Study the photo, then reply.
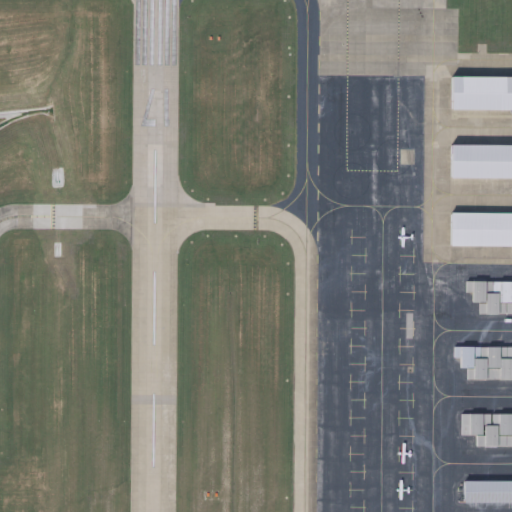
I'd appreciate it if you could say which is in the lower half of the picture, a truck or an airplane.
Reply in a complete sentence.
Looking in the lower half of the picture, you will find an airplane.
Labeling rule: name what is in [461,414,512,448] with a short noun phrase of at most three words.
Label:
hangar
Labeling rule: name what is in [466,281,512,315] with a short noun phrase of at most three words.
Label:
hangar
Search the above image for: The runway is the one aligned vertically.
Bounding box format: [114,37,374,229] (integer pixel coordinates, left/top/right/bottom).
[131,0,180,512]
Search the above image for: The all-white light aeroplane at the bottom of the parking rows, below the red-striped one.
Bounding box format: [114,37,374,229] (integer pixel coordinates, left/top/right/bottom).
[396,480,412,500]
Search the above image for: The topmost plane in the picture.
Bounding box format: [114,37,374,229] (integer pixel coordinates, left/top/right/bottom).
[398,227,414,248]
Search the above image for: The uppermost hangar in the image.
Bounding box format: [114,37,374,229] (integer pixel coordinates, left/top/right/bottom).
[451,76,512,110]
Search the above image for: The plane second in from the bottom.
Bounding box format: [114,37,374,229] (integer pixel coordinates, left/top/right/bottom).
[398,443,414,464]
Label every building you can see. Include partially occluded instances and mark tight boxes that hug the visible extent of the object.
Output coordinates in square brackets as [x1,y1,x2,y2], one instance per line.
[461,414,512,448]
[466,281,512,315]
[451,76,512,110]
[454,346,512,380]
[450,212,512,247]
[450,144,512,179]
[464,480,512,504]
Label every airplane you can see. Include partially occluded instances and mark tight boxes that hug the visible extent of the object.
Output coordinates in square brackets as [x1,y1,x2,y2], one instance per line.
[398,443,414,464]
[398,227,414,248]
[396,480,412,500]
